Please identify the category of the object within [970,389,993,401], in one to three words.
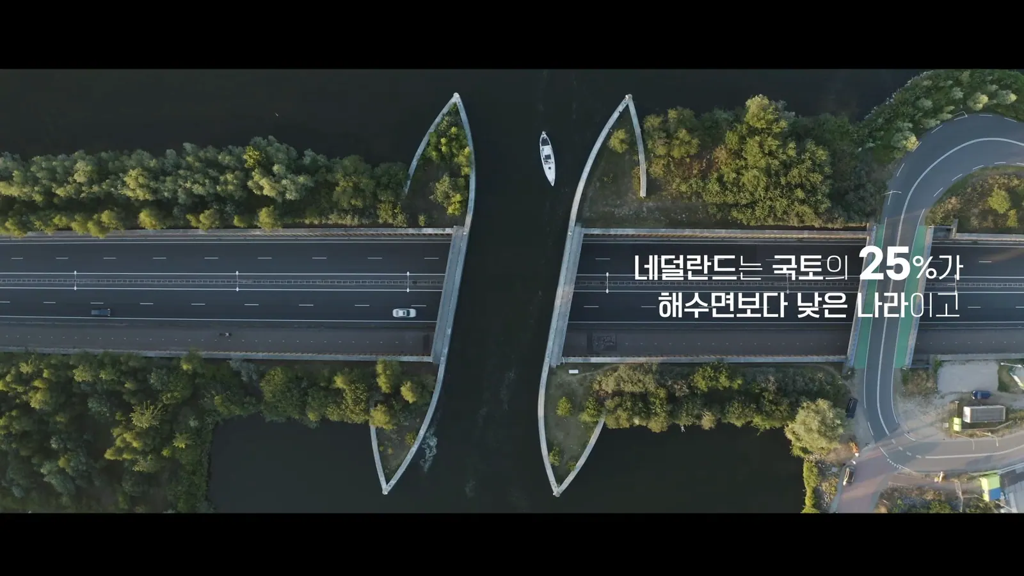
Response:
vehicle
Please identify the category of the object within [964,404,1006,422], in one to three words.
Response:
building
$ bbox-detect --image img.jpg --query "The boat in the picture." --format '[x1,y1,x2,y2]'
[539,130,556,186]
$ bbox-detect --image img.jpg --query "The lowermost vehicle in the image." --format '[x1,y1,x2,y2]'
[842,465,855,485]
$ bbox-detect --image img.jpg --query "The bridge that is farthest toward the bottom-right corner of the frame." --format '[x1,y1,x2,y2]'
[842,223,934,371]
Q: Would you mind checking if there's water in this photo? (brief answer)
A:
Yes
